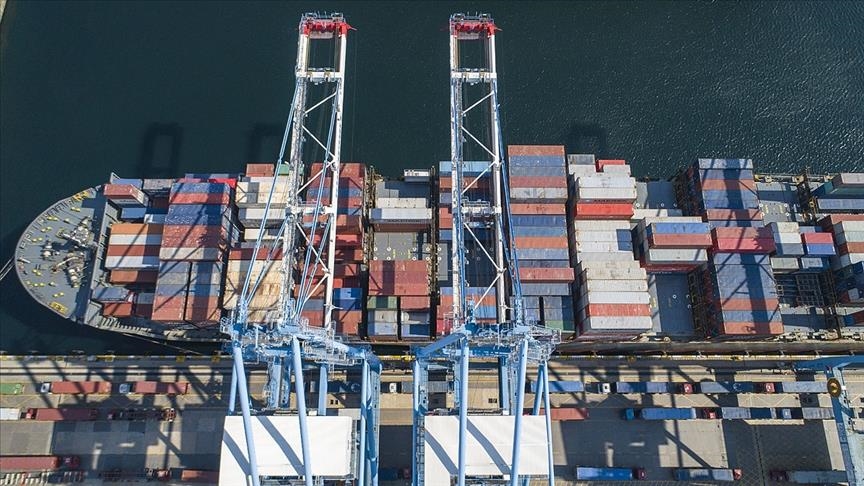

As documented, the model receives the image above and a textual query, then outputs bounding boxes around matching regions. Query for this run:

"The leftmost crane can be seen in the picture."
[216,9,403,486]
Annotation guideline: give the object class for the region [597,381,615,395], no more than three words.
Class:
vehicle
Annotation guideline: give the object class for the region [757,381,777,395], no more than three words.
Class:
vehicle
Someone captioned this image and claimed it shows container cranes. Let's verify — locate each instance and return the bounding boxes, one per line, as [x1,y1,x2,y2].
[216,9,403,486]
[407,9,565,486]
[786,362,864,486]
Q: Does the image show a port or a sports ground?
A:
port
